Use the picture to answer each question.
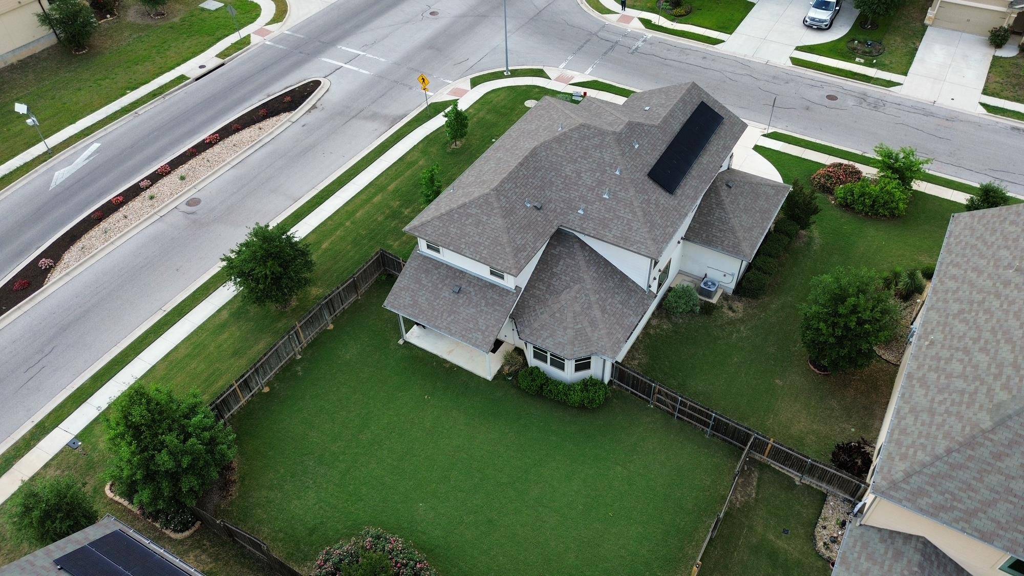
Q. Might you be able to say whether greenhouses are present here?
No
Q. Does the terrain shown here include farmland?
No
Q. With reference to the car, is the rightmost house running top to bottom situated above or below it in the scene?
below it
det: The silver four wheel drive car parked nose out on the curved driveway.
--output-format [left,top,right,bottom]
[804,0,844,29]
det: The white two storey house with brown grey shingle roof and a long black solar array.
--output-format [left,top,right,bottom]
[380,80,793,382]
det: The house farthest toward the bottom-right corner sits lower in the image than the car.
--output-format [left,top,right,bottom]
[826,208,1024,576]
